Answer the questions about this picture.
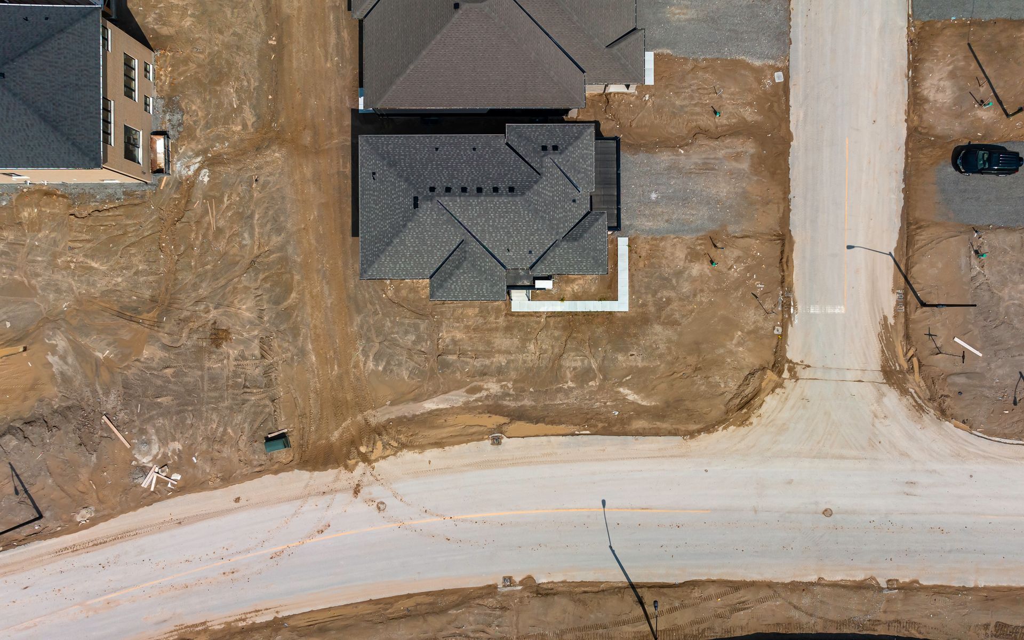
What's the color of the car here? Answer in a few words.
black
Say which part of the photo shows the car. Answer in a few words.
top right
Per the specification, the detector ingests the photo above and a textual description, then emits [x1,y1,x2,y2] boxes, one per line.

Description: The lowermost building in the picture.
[359,123,621,301]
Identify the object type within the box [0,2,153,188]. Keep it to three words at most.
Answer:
house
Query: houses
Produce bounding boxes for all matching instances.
[351,0,644,115]
[359,123,621,301]
[0,2,153,188]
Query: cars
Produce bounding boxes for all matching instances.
[957,146,1024,177]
